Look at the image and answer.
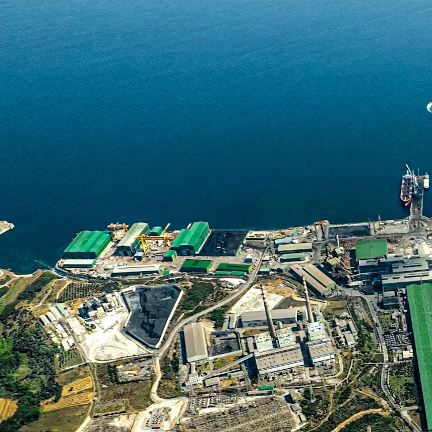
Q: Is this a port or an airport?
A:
port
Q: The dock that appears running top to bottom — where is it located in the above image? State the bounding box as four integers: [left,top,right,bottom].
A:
[409,179,423,219]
